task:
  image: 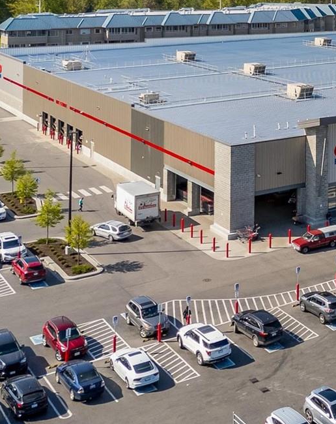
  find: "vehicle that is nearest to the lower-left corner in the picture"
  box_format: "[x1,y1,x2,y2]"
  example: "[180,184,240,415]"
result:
[1,379,48,424]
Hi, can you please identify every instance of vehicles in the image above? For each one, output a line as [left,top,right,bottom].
[0,202,6,219]
[55,363,106,408]
[303,388,336,424]
[265,409,306,424]
[100,178,153,225]
[1,379,48,424]
[109,352,162,395]
[0,230,26,263]
[298,294,336,327]
[12,260,46,285]
[292,226,336,254]
[124,300,168,340]
[233,313,285,350]
[83,221,137,243]
[44,320,87,361]
[178,327,232,368]
[0,330,29,383]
